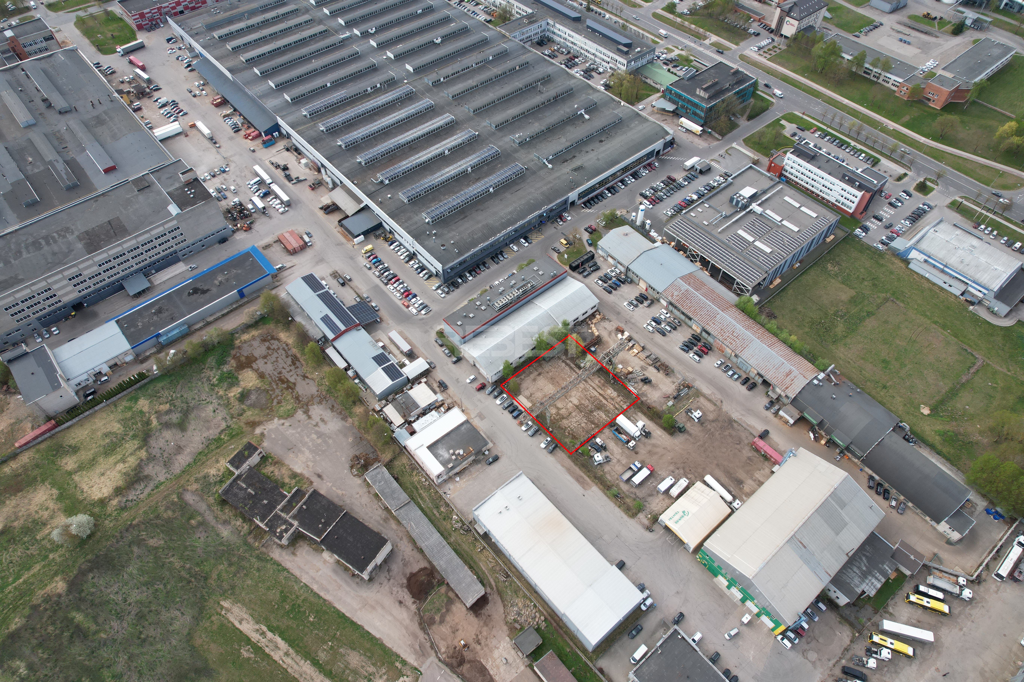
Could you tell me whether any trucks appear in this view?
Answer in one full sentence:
Yes, there's a truck here.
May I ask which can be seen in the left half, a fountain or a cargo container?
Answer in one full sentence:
The feature located in the left half is a cargo container.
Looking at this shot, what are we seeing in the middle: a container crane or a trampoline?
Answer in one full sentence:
The feature located in the middle is a container crane.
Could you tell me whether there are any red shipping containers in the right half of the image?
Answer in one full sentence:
Yes, I can see a red shipping container in the right half of the image.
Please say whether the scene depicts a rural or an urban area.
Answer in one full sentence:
The area is urban.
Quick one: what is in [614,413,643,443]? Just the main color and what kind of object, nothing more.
white truck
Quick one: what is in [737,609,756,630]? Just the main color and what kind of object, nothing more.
white vehicle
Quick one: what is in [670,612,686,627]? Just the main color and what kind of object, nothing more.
black car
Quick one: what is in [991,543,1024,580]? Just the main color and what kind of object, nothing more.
white bus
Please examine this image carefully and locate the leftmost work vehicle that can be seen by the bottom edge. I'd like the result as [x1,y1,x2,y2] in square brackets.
[459,639,471,655]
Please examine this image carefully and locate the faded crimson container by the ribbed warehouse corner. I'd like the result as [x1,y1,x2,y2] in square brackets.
[749,437,786,464]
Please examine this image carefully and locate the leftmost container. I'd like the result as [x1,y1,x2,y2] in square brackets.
[0,427,45,456]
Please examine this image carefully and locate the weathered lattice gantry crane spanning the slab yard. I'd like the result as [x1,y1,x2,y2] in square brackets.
[517,338,632,429]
